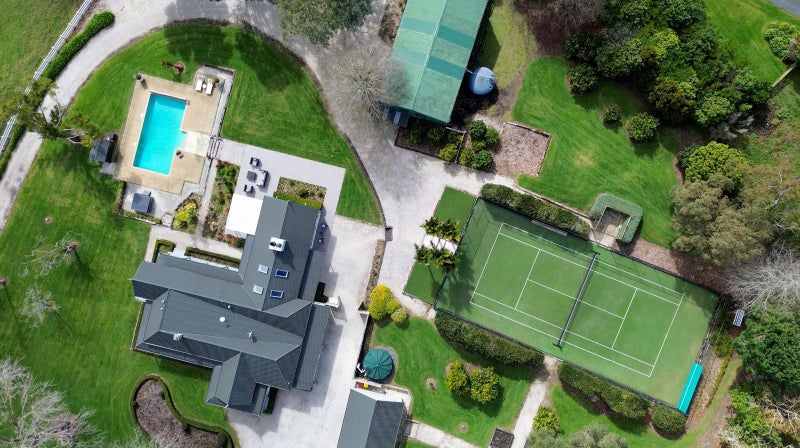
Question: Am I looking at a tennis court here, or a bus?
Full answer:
Looking from above, you can make out a tennis court.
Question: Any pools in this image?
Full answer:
Yes, looking at the shot, I can spot a pool.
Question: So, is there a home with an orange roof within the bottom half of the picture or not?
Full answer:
No, I see no home with an orange roof within the bottom half of the picture.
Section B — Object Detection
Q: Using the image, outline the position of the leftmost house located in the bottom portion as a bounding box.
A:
[132,195,332,414]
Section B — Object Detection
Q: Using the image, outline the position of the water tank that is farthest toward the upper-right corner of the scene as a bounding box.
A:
[467,69,495,99]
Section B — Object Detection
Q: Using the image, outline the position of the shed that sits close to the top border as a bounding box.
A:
[382,0,491,125]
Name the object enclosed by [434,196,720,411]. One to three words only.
tennis court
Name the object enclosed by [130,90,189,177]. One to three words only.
swimming pool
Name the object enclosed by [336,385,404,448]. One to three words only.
building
